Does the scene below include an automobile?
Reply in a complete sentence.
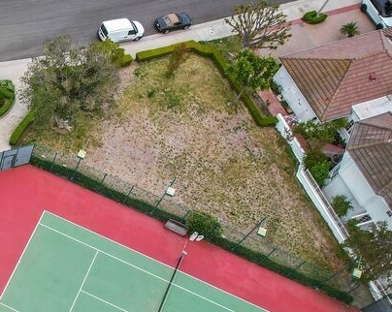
Yes, you can see an automobile in this photo.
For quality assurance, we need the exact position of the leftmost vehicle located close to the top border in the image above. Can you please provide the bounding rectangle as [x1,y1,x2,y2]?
[97,13,149,44]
